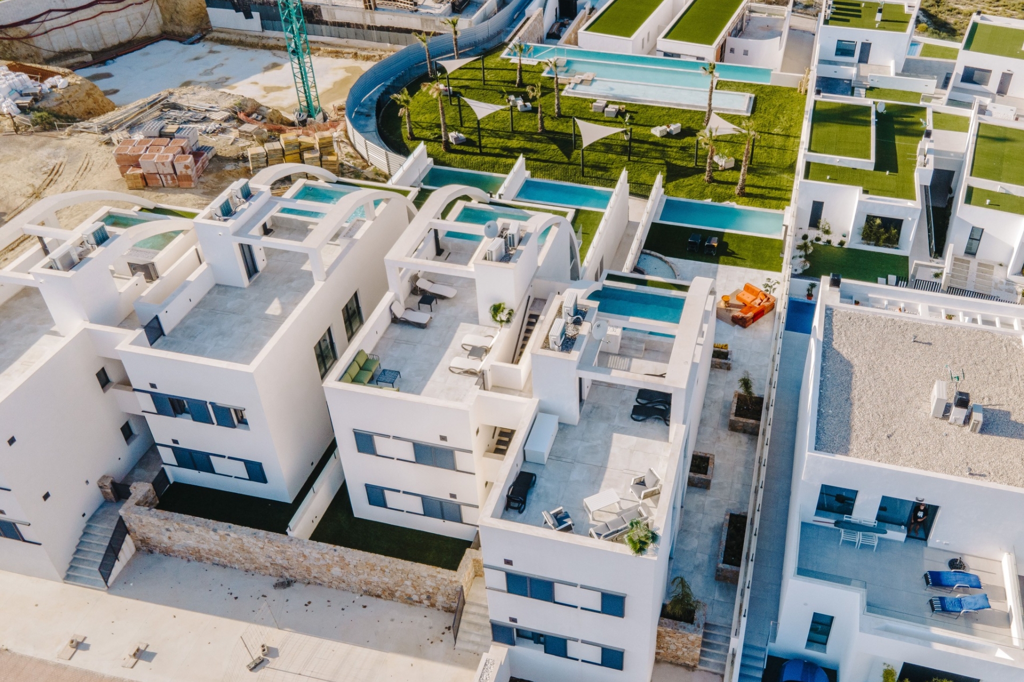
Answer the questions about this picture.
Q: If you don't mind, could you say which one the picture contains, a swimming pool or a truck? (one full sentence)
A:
Looking from above, you can make out a swimming pool.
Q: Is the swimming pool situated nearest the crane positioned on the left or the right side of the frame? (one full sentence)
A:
The swimming pool situated nearest the crane is on the left side of the image.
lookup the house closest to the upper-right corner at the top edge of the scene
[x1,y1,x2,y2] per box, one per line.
[945,10,1024,97]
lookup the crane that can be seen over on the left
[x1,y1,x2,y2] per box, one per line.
[273,0,325,121]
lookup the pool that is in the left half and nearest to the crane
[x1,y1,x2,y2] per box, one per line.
[278,182,368,220]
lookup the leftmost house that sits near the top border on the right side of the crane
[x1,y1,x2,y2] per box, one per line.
[525,0,588,41]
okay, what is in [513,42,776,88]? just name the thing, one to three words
swimming pool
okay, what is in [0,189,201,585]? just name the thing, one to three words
house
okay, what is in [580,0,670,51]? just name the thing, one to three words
building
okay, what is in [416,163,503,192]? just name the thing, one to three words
swimming pool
